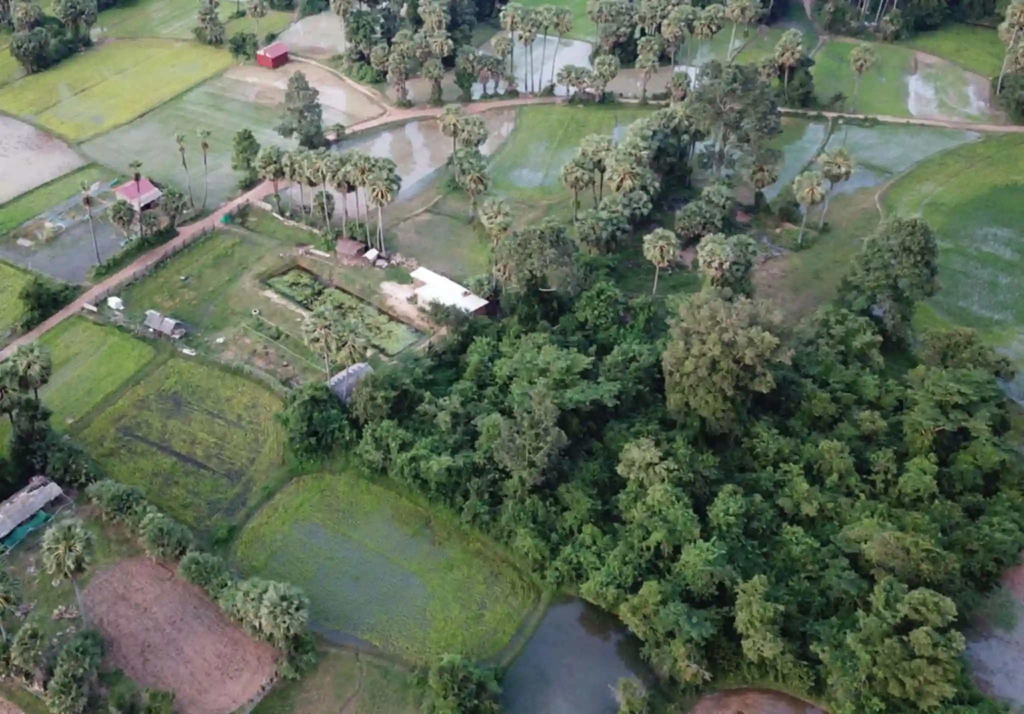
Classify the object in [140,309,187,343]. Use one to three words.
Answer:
shed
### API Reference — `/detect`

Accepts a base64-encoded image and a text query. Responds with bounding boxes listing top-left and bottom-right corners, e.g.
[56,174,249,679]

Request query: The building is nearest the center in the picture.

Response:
[403,264,485,333]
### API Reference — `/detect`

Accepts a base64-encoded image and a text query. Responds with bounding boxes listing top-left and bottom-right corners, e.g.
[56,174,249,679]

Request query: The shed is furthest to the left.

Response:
[0,480,72,542]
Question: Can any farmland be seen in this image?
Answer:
Yes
